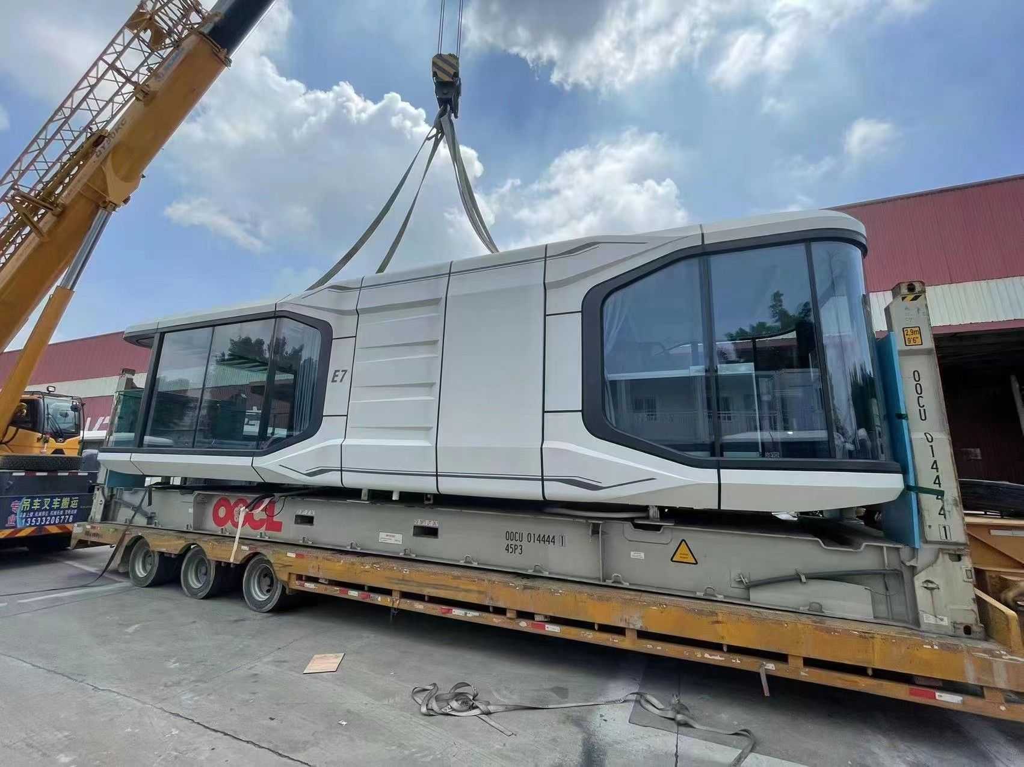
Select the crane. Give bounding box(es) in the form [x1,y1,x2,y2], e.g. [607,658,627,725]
[0,0,278,554]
